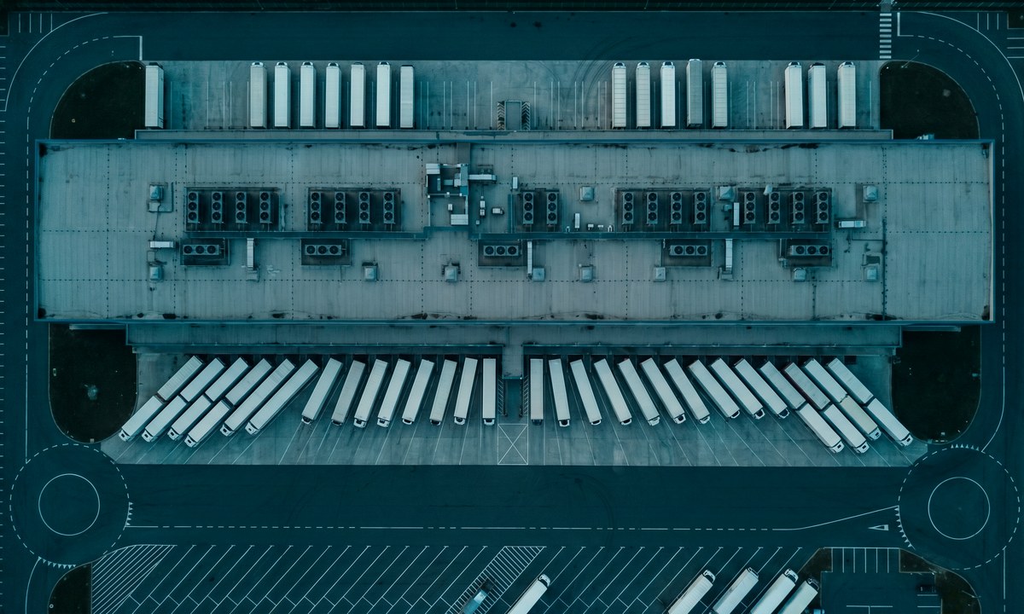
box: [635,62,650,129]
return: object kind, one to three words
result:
vehicle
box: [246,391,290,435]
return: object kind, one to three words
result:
truck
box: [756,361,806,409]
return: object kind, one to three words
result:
trailer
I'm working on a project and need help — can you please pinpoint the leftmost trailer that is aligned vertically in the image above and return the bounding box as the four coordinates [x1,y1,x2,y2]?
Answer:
[146,63,165,129]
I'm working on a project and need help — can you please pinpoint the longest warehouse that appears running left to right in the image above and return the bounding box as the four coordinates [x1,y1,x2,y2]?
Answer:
[35,126,995,378]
